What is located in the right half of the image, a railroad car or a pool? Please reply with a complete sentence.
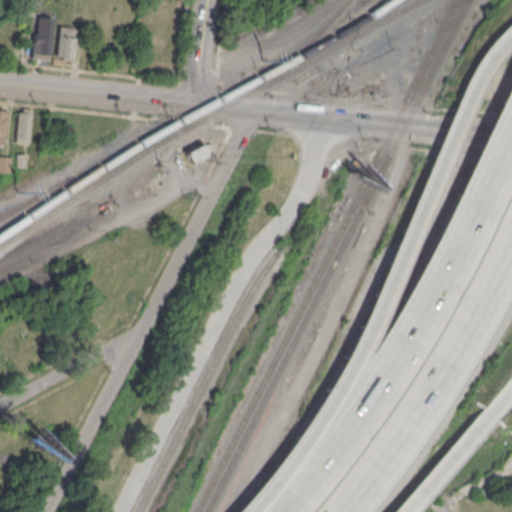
You can see a railroad car in the right half of the image.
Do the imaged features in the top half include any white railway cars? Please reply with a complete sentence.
Yes, a white railway car shows up in the top half.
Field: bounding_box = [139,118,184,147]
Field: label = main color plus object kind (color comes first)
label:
white rail car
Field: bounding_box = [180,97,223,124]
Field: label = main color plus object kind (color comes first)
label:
white rail car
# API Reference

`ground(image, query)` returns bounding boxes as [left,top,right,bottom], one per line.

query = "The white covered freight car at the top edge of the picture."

[368,0,412,21]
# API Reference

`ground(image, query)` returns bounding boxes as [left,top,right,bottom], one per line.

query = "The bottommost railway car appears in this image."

[0,212,34,241]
